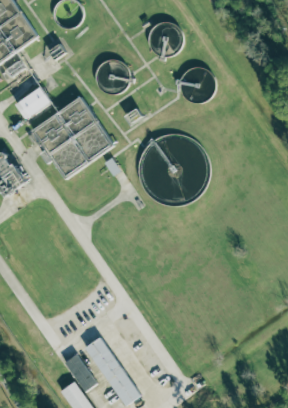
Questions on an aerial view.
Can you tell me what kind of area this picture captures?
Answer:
industrial area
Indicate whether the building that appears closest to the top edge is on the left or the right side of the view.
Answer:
left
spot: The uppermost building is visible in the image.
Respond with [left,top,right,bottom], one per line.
[16,86,54,122]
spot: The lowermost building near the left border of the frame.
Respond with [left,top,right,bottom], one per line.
[0,150,34,199]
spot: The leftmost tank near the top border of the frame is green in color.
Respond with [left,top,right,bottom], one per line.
[54,0,88,31]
